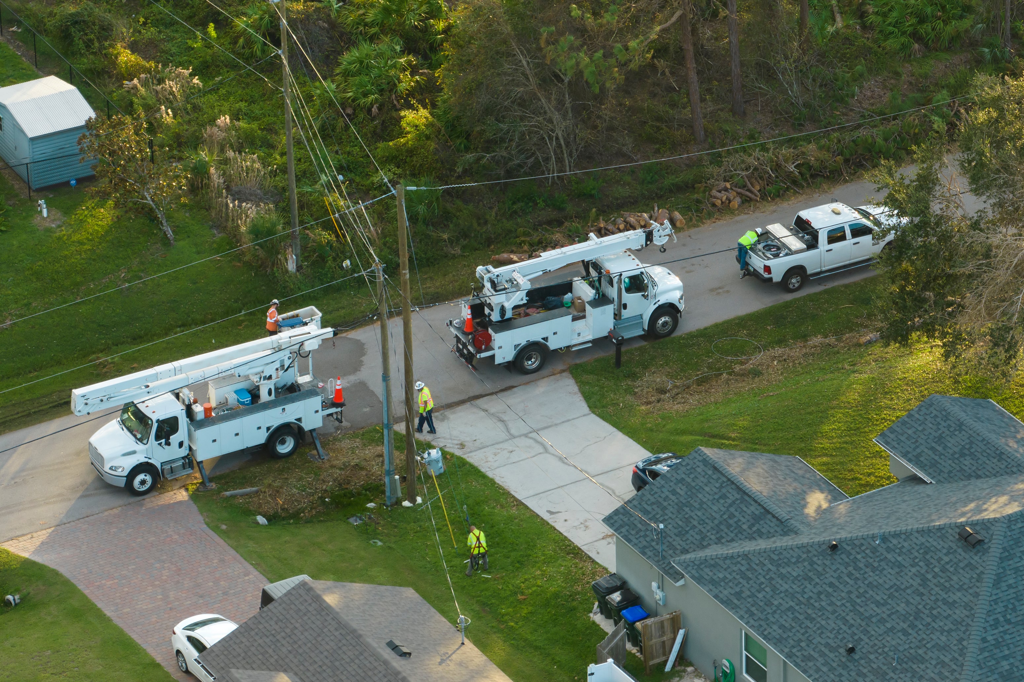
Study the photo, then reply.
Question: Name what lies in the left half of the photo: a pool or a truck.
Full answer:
You can see a truck in the left half of the photo.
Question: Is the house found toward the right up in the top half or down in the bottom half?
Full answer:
The bottom half of the photo is where the house found toward the right is.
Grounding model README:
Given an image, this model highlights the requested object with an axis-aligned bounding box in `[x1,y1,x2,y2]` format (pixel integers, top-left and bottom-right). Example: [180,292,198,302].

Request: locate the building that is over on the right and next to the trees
[600,392,1024,682]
